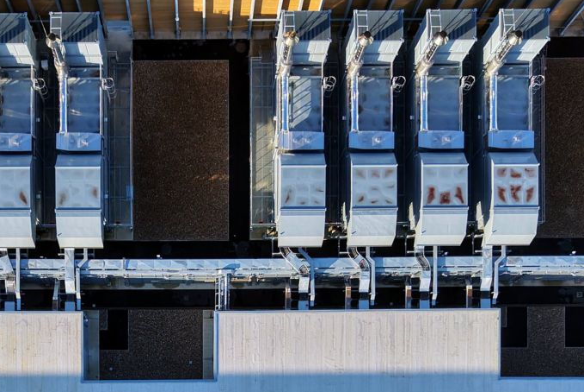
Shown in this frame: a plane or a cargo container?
cargo container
